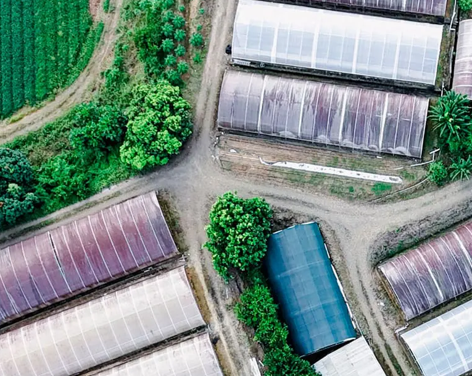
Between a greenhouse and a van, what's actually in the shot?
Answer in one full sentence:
The one in the frame is a greenhouse.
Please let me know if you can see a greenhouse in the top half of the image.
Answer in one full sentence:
Yes, the scene does show a greenhouse in the top half of the image.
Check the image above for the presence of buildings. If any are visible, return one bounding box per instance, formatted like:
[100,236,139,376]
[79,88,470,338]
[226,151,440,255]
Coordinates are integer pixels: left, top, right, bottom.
[269,222,361,356]
[217,68,430,161]
[231,0,444,89]
[92,334,222,376]
[378,221,472,321]
[0,191,181,326]
[451,20,472,100]
[311,336,386,376]
[0,266,205,376]
[400,300,472,376]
